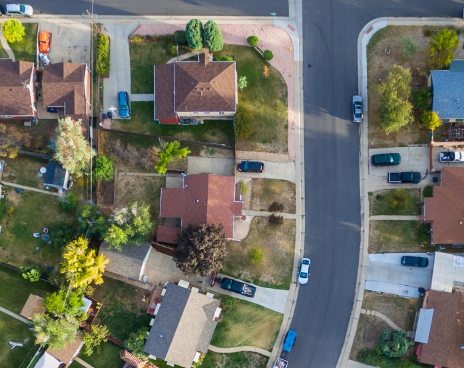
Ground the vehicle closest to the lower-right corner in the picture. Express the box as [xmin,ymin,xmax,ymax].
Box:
[399,255,429,268]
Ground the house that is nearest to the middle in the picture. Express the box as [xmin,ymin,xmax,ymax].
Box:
[156,173,242,243]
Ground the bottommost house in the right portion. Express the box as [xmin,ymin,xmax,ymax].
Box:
[417,290,464,368]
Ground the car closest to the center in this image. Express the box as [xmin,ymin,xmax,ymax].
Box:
[237,159,265,174]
